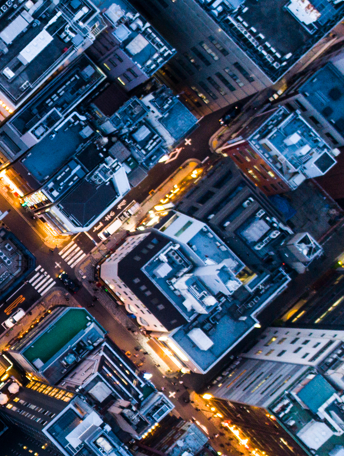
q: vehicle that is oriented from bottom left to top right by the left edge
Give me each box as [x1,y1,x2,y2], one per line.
[5,309,25,328]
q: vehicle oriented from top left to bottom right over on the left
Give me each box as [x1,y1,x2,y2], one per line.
[58,272,80,293]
